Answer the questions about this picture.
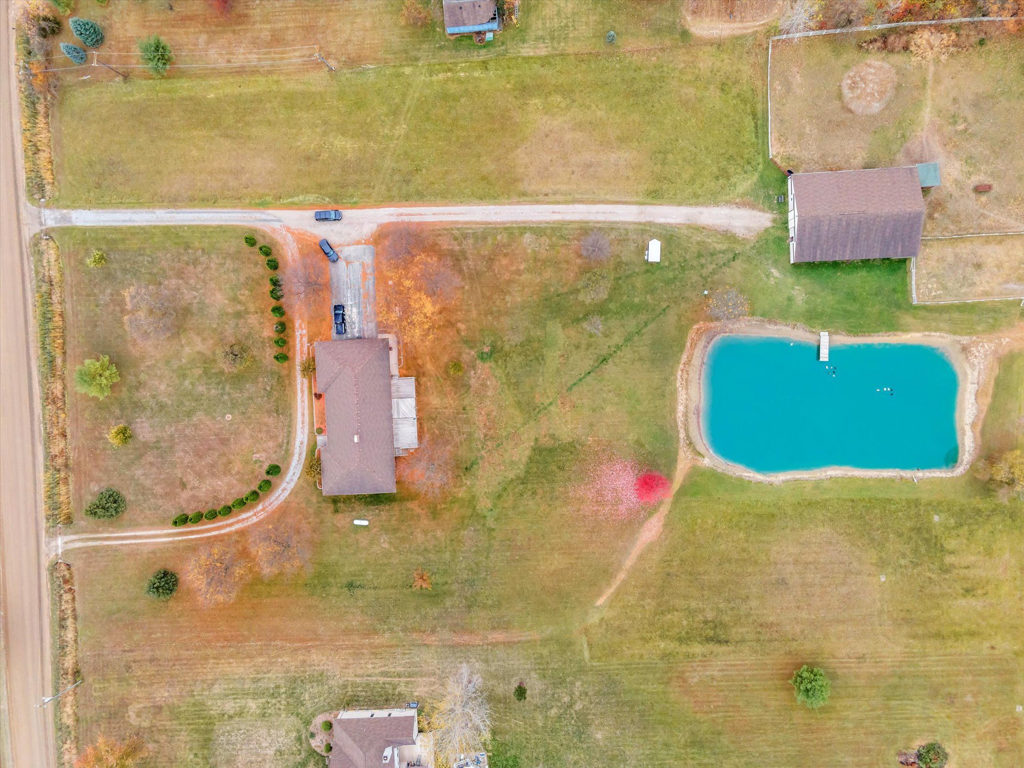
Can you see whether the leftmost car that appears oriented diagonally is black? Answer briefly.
No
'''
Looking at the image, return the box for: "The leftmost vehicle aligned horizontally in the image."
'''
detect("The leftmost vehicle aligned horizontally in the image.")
[314,208,341,221]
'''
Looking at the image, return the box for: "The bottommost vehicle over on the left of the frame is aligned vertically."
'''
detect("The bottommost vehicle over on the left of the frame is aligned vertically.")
[332,304,346,335]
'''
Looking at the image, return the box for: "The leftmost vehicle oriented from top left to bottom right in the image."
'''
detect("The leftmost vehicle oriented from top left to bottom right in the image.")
[317,237,338,262]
